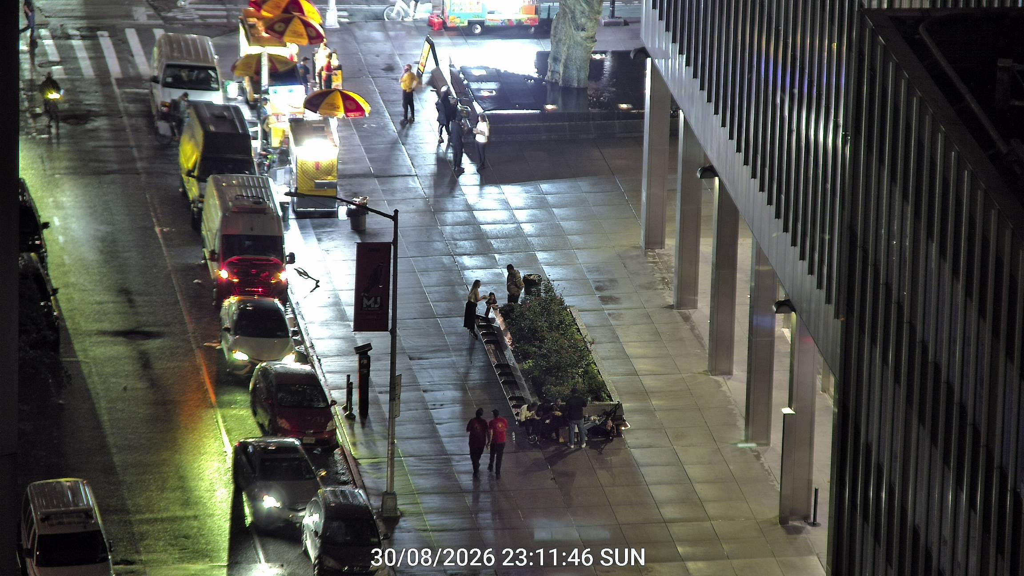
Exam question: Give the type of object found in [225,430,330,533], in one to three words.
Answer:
car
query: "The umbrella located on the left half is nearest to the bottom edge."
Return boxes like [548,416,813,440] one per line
[306,88,371,137]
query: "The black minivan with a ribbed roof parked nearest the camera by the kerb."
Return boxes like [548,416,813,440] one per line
[296,482,399,576]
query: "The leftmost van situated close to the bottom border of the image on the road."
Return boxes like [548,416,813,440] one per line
[20,478,122,576]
